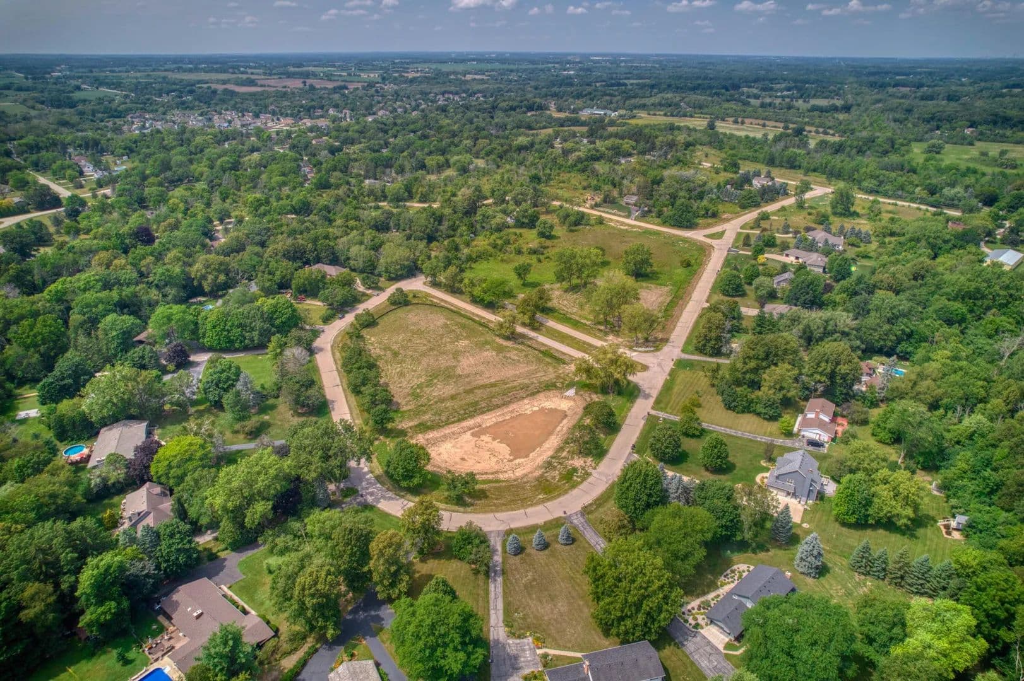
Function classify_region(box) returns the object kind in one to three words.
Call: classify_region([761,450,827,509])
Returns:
house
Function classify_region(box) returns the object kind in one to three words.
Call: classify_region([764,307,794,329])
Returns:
house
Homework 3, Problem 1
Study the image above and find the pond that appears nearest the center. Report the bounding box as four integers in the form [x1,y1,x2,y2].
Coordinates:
[471,412,566,461]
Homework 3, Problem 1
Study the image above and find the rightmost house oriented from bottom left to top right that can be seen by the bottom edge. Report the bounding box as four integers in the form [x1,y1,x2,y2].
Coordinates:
[702,568,797,650]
